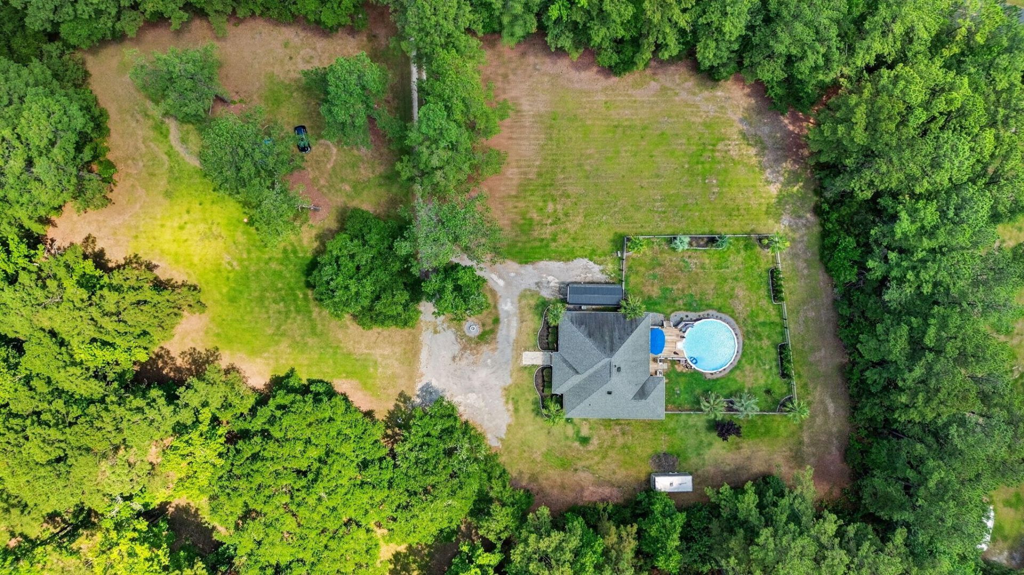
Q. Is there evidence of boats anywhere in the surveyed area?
No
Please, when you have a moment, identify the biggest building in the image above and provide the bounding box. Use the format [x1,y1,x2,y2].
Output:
[552,311,665,419]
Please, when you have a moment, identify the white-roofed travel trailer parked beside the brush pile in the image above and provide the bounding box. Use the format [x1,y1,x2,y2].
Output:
[642,471,692,492]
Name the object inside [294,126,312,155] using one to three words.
car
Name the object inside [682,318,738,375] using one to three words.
swimming pool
